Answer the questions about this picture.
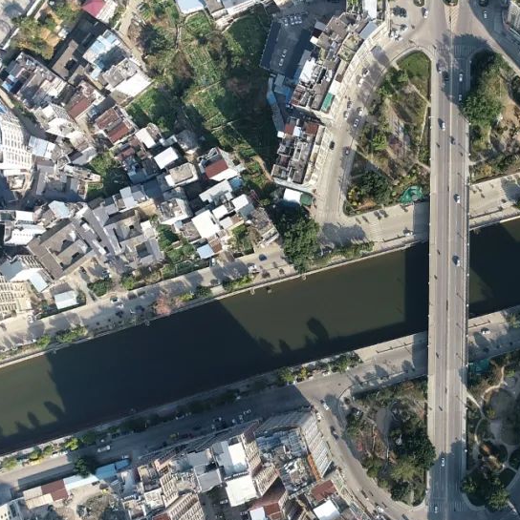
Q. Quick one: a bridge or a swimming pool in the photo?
bridge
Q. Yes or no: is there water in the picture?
Yes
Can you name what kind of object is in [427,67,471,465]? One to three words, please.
bridge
